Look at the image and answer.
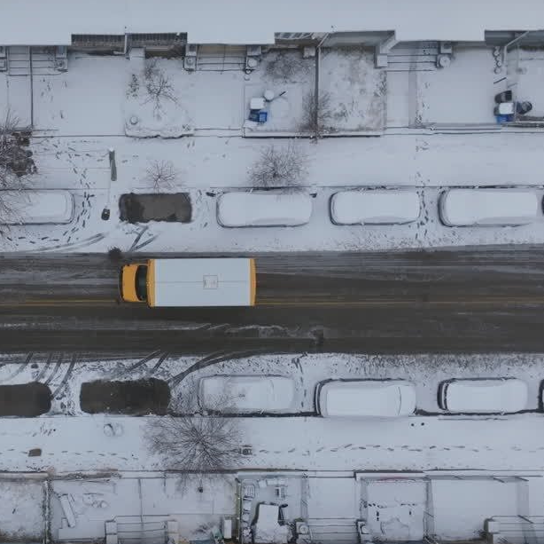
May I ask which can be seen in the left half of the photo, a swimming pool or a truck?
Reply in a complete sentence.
The one visible in the left half of the photo is a truck.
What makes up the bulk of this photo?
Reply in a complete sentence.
What you mostly see from above here is paved ground.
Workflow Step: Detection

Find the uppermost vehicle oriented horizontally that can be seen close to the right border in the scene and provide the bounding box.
[433,187,540,228]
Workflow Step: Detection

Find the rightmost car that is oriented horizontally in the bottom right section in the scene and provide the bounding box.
[432,376,528,417]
